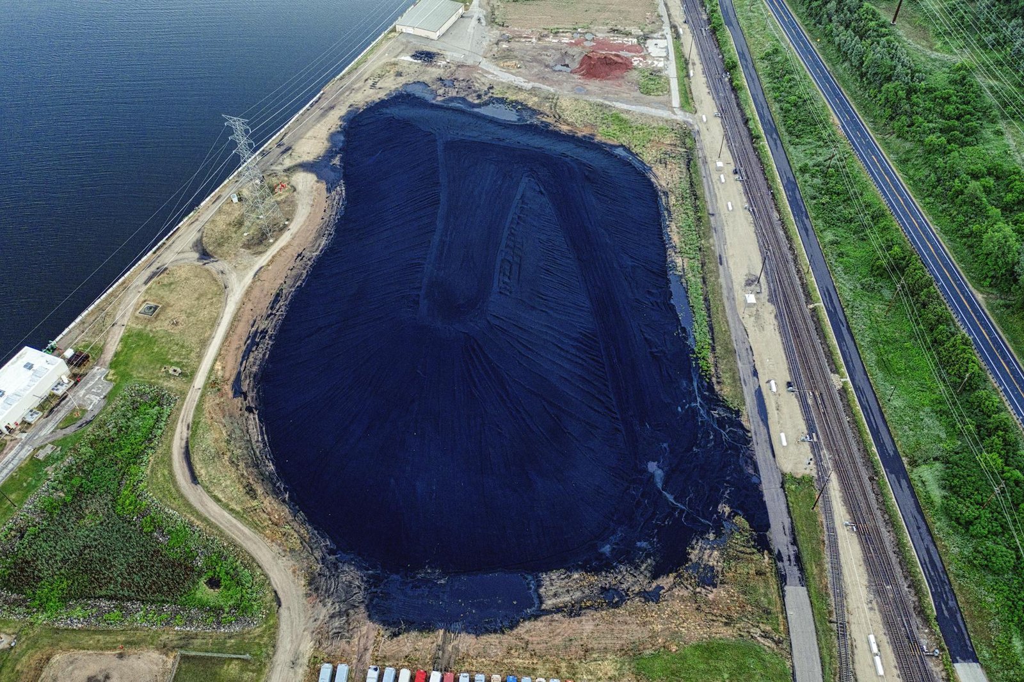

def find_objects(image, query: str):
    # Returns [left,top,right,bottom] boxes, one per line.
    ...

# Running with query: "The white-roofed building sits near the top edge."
[396,0,464,40]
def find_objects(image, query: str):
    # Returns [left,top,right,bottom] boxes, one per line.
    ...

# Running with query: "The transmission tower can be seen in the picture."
[223,114,288,241]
